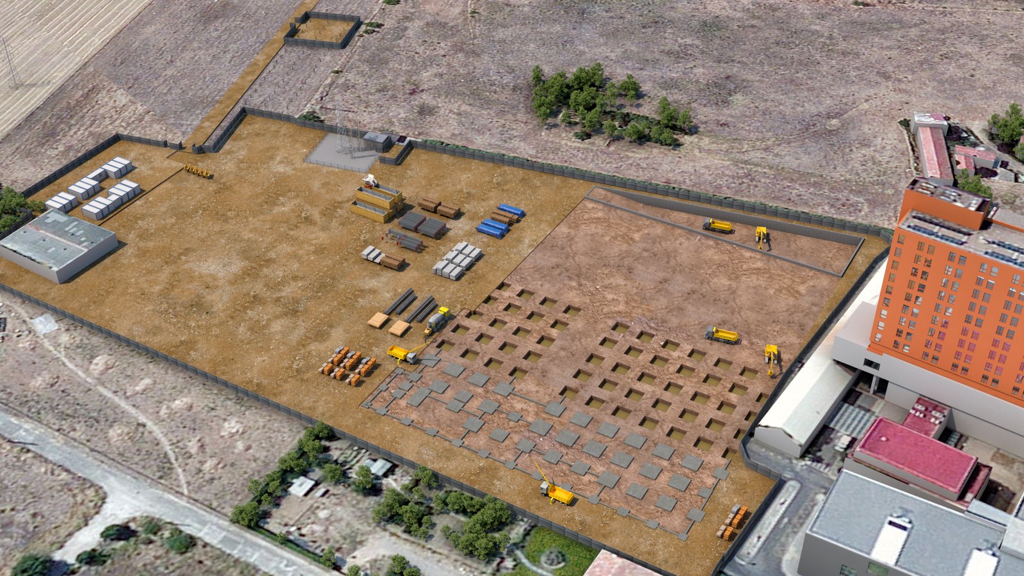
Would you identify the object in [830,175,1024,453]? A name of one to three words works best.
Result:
building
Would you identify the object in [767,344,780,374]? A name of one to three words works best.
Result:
vehicle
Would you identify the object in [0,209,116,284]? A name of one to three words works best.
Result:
shed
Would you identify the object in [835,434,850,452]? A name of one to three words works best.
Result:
vehicle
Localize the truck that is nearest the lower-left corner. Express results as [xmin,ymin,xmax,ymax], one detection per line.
[388,345,429,368]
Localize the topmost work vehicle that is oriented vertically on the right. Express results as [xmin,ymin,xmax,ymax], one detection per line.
[756,227,769,251]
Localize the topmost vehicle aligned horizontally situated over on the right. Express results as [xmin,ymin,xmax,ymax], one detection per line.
[704,218,736,236]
